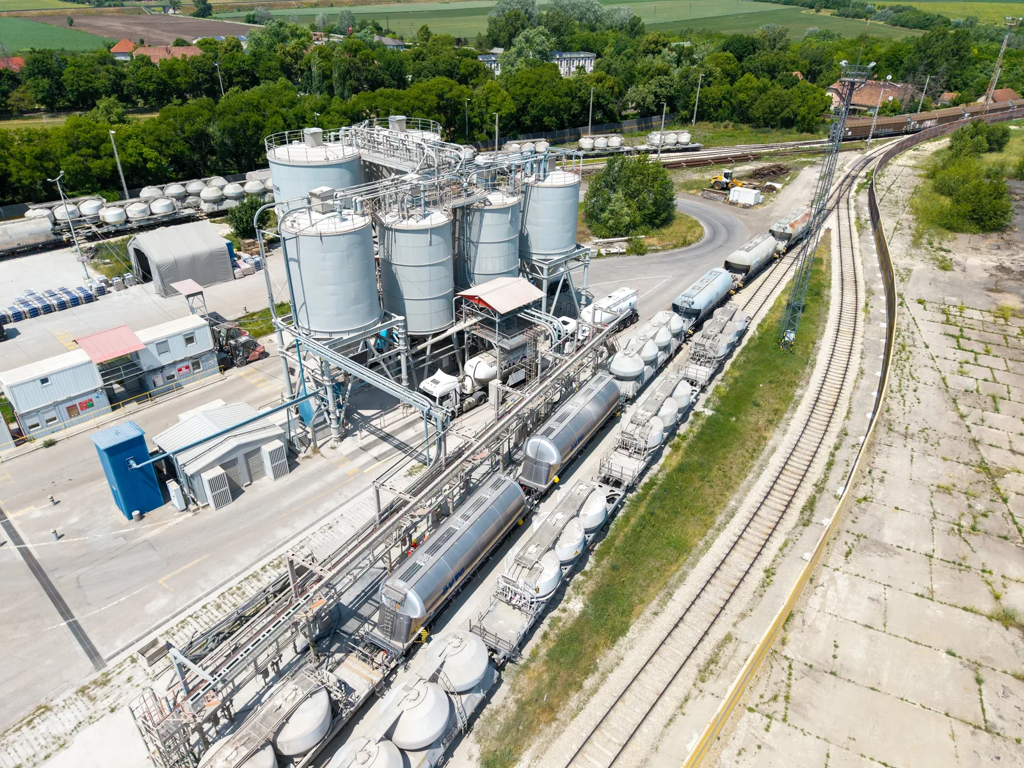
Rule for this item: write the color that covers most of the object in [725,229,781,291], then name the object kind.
white rail car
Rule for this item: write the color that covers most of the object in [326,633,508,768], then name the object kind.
white rail car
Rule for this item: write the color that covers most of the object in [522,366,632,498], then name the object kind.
gray rail car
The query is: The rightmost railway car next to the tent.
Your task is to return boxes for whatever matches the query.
[187,171,274,209]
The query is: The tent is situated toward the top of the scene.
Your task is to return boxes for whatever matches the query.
[138,226,235,297]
